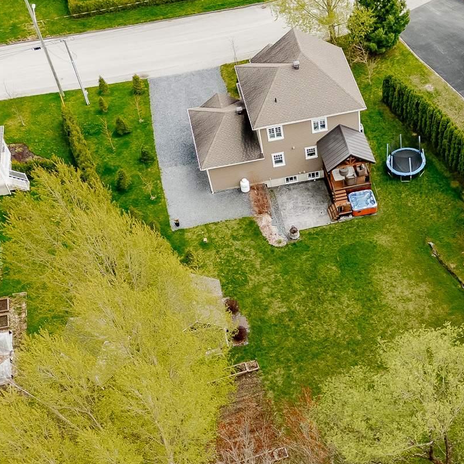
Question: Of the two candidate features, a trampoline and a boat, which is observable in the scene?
trampoline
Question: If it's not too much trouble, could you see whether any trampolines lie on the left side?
No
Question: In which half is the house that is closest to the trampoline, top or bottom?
top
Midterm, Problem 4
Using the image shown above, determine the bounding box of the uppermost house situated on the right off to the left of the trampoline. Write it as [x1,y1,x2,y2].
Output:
[189,23,368,195]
